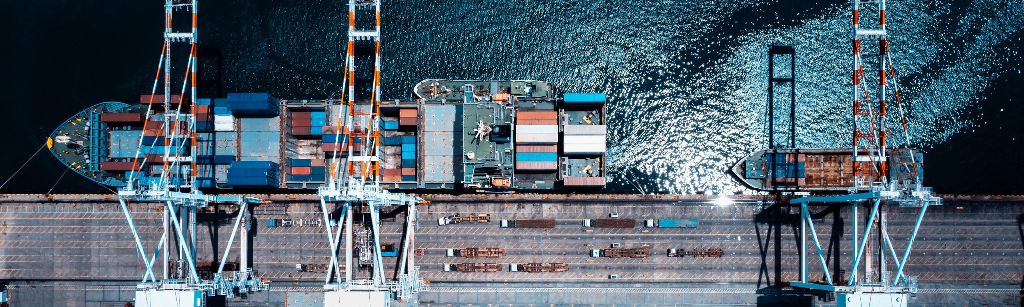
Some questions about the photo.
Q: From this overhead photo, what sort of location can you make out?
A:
port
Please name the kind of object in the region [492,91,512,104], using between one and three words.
boat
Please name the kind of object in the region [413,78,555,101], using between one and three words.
ship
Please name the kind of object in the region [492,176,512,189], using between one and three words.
boat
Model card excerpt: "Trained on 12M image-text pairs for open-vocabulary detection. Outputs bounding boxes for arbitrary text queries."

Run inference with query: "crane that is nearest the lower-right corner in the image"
[778,0,939,307]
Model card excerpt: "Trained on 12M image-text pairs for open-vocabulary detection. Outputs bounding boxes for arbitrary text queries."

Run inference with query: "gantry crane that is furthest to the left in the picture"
[113,0,276,307]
